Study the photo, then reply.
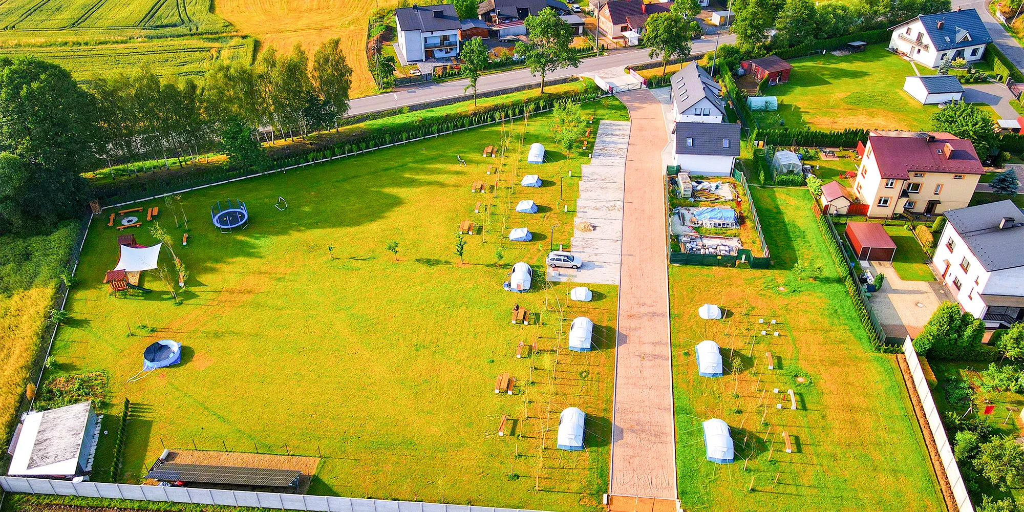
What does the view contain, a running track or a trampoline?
trampoline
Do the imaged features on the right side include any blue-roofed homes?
Yes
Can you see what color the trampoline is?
blue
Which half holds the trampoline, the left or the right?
left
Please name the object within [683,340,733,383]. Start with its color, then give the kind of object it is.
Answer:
white tent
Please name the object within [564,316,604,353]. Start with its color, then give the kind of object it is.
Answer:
white tent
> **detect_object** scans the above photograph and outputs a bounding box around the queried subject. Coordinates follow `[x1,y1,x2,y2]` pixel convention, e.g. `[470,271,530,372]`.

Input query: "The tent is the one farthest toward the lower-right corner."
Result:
[690,417,746,478]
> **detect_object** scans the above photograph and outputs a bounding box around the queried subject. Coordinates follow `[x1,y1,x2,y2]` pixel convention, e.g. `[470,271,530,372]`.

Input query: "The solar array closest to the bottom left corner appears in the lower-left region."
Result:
[145,459,288,493]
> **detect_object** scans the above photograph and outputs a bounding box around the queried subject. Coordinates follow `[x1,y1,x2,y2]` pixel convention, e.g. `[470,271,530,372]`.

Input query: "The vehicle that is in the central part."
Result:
[546,249,581,267]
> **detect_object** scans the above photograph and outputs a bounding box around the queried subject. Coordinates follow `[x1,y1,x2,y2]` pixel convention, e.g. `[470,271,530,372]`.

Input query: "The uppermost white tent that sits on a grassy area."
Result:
[525,142,550,165]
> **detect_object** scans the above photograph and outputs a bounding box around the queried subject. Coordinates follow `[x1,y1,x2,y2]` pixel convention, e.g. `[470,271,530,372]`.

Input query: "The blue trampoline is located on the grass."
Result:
[207,202,248,235]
